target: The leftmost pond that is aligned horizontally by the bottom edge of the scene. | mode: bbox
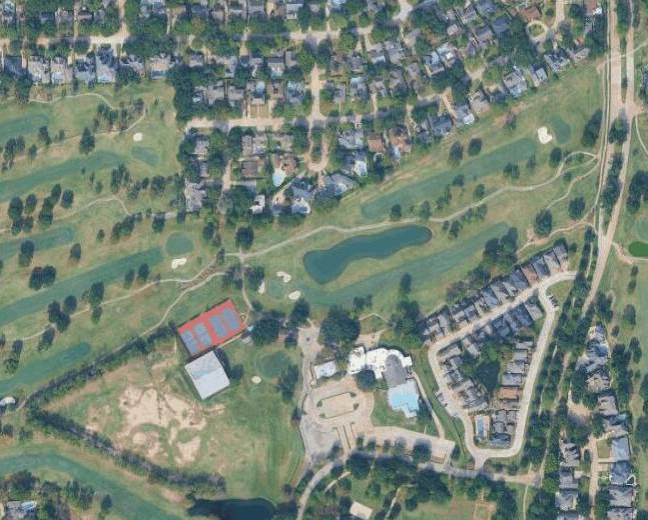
[185,495,279,520]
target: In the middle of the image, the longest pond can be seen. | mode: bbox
[300,220,435,286]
